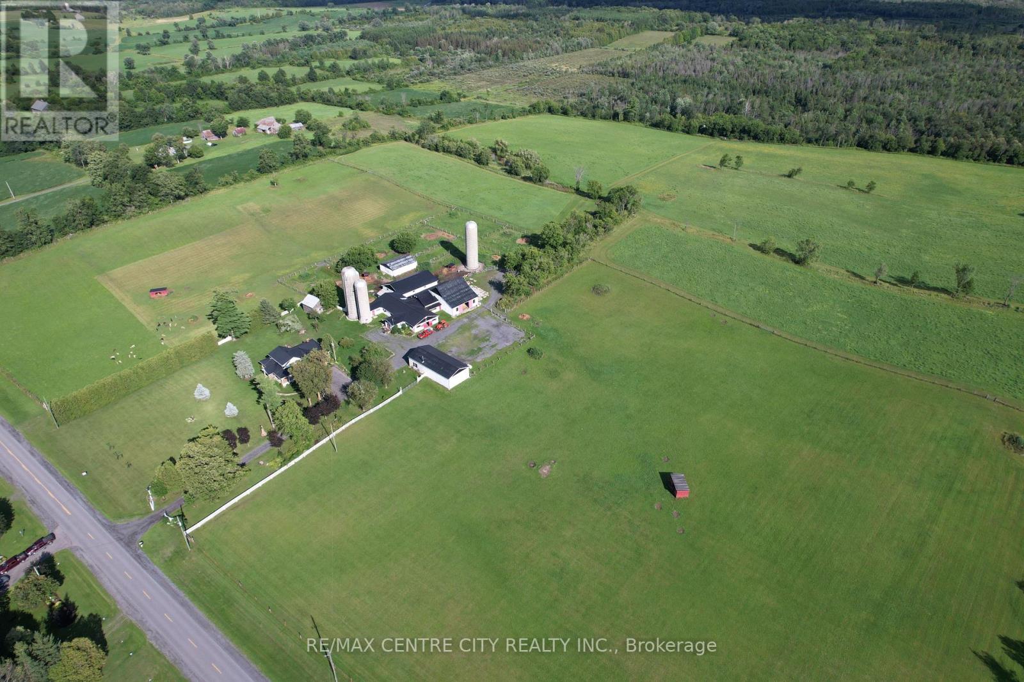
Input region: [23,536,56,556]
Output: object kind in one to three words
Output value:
vehicle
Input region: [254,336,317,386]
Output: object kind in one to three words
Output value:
house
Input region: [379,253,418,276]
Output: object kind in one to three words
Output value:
shed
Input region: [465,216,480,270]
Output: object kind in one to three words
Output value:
silo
